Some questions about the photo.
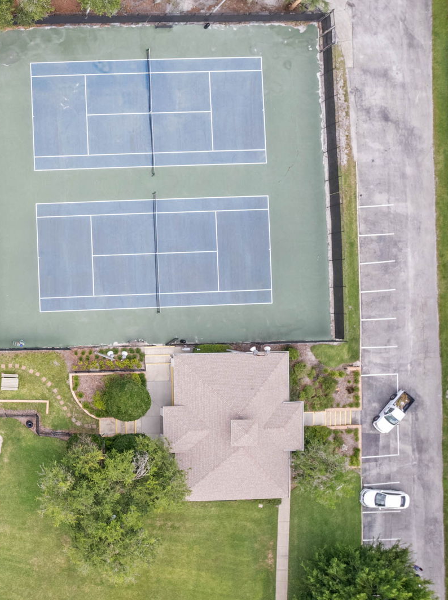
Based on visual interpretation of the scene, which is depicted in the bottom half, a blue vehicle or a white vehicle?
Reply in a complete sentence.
The feature located in the bottom half is a white vehicle.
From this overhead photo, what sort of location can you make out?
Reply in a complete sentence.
This image shows a sports ground.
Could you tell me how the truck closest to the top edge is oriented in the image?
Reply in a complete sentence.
What the image shows is the truck closest to the top edge lying on a diagonal.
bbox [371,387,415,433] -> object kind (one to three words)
truck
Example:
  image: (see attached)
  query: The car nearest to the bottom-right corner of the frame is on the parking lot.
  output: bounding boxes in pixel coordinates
[359,488,409,511]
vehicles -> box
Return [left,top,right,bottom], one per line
[359,488,409,511]
[371,387,415,433]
